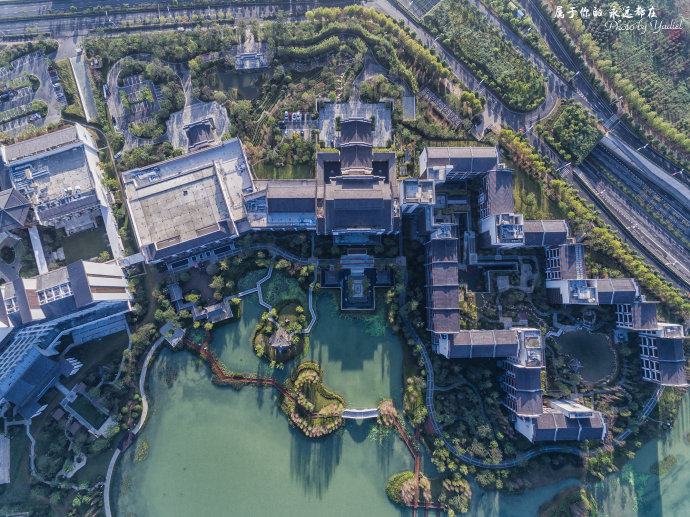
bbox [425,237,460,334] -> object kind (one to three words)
building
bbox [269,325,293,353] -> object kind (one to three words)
building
